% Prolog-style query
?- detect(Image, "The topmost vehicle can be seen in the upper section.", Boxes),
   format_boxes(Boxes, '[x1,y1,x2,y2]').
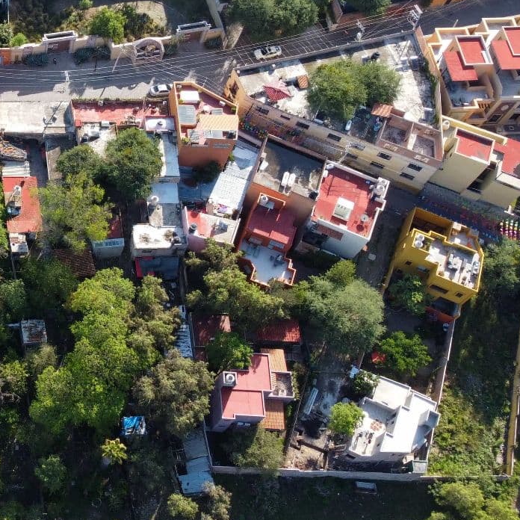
[255,44,280,58]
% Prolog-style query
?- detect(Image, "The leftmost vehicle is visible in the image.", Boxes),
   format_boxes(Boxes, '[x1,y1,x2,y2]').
[147,85,171,98]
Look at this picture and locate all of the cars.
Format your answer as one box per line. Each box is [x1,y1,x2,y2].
[255,44,280,58]
[147,85,171,98]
